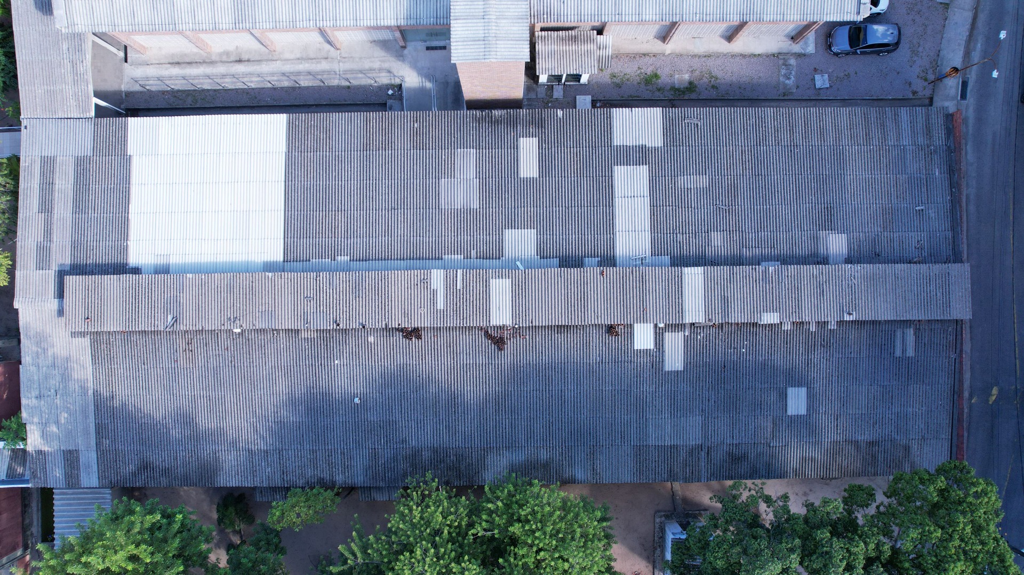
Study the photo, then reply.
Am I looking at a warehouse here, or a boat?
warehouse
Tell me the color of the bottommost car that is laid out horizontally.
blue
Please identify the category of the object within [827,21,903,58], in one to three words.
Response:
car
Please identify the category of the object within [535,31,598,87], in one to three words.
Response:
shed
